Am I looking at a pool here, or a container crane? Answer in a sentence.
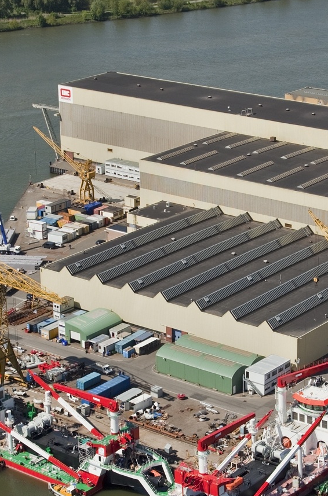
I can see a container crane in this picture.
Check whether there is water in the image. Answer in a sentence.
Yes, water can be seen from above here.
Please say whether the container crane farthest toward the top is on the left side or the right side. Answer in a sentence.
The container crane farthest toward the top is on the left side of the image.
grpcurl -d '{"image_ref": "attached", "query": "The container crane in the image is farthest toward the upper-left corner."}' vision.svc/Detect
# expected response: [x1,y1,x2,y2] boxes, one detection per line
[33,127,98,202]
